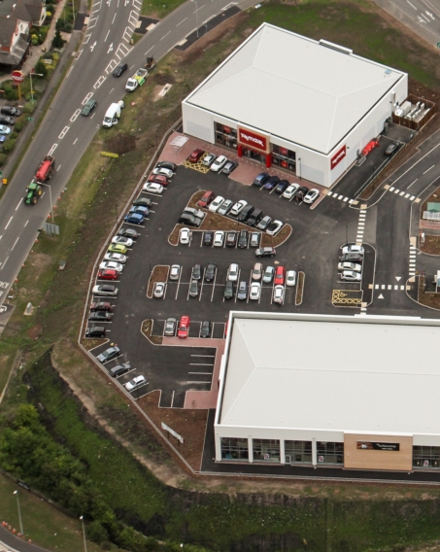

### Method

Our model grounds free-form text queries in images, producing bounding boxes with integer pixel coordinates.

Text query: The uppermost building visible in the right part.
[183,21,407,187]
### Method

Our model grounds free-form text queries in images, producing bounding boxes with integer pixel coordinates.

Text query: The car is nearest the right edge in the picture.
[386,141,401,154]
